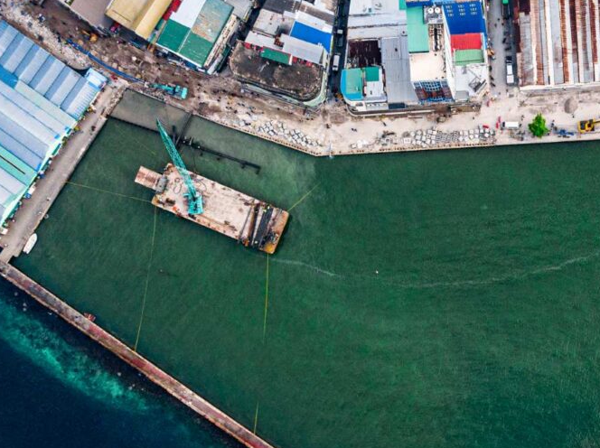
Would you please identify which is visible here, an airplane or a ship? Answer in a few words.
ship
